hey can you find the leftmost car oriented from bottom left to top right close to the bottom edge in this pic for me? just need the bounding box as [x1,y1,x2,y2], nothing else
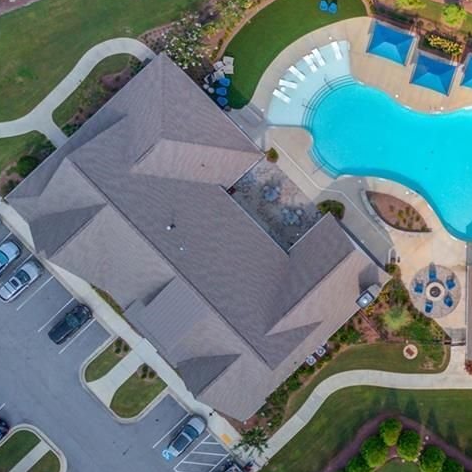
[163,414,207,458]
